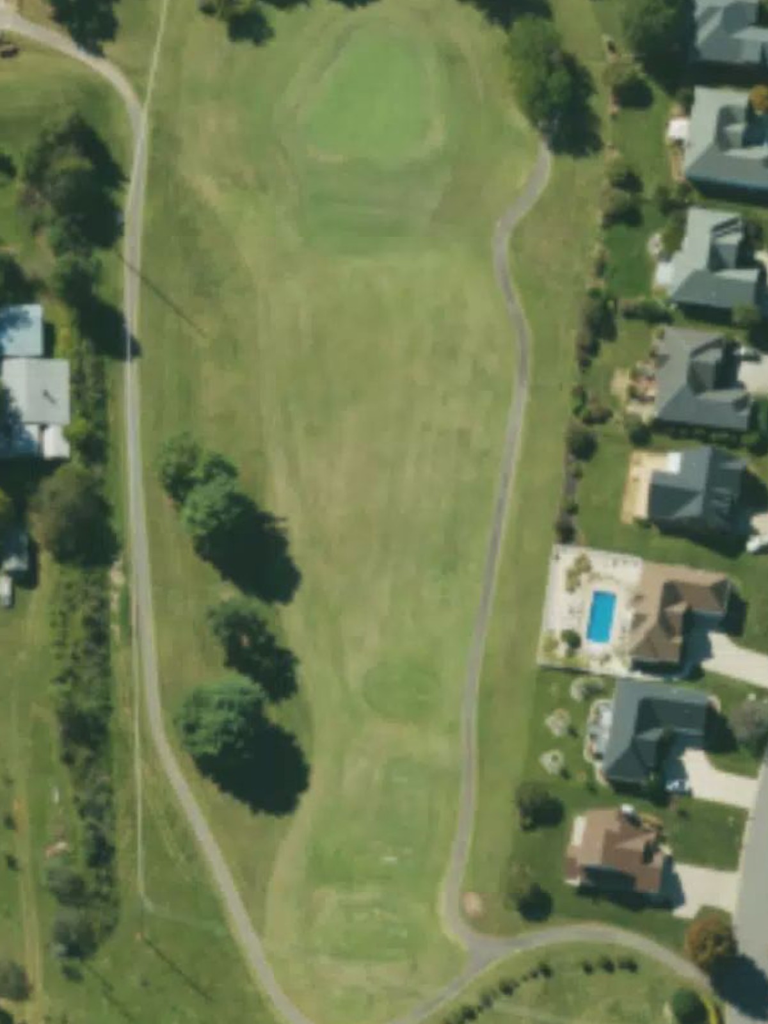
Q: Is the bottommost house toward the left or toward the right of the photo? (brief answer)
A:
right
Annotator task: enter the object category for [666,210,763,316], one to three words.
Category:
house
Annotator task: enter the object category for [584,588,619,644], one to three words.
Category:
swimming pool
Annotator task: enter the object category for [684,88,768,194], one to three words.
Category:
house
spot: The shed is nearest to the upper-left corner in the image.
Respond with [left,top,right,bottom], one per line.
[0,308,43,359]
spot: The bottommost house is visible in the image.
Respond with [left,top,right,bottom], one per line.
[578,807,661,902]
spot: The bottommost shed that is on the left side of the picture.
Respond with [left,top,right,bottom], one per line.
[0,532,30,574]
